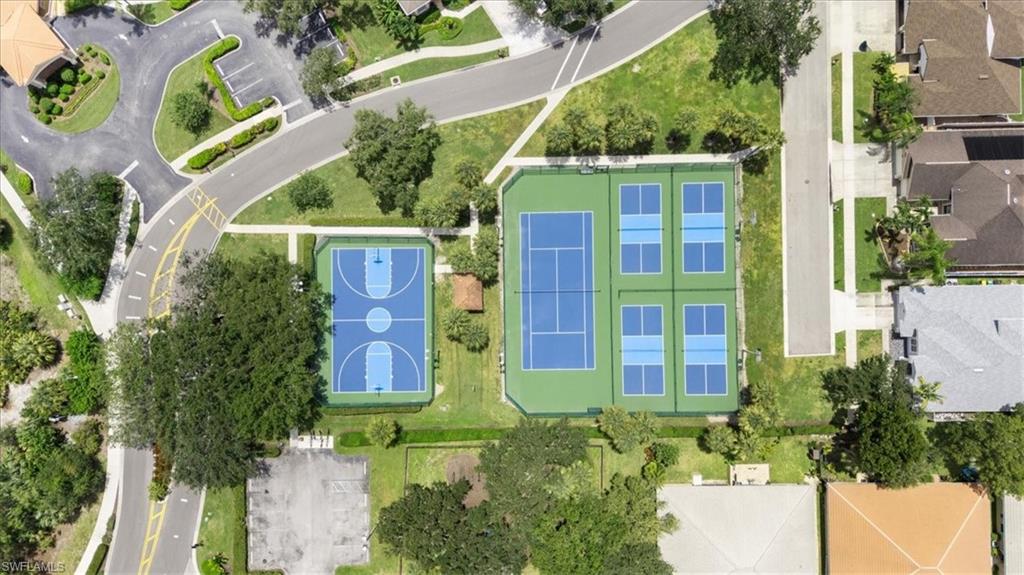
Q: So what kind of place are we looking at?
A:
residential area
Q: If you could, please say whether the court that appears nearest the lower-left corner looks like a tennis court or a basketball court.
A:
basketball court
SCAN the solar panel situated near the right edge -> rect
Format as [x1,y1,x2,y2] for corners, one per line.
[963,134,1024,160]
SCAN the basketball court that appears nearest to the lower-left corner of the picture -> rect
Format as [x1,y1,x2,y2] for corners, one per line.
[316,239,434,404]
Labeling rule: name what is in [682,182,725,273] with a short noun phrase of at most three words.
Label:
sports court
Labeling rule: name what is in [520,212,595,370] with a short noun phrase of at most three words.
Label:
tennis court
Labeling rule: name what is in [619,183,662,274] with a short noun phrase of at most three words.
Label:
sports court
